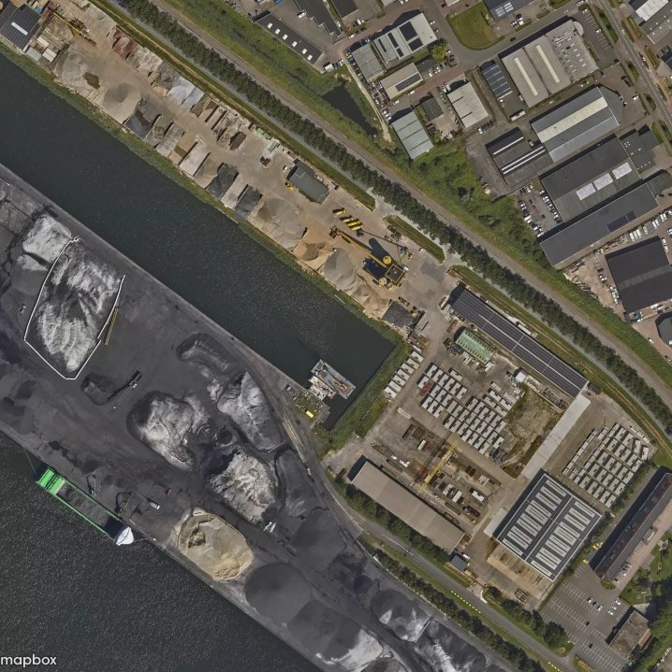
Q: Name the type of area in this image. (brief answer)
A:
port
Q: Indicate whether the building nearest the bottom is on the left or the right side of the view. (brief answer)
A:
right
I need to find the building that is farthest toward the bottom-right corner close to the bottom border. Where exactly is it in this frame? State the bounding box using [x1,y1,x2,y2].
[609,610,646,659]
